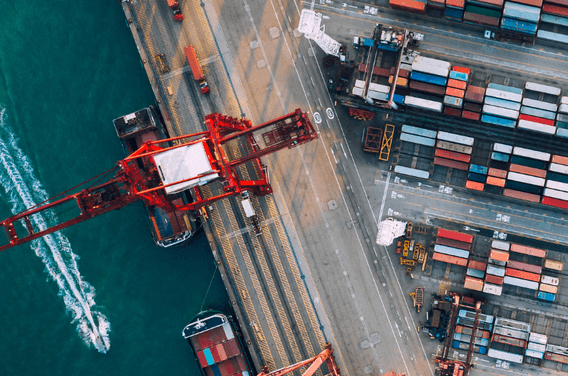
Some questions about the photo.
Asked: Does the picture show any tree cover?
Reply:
No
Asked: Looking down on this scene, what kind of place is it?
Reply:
port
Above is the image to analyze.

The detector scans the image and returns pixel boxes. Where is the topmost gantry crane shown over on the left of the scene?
[0,108,317,259]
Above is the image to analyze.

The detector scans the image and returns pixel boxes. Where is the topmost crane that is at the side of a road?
[355,22,411,122]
